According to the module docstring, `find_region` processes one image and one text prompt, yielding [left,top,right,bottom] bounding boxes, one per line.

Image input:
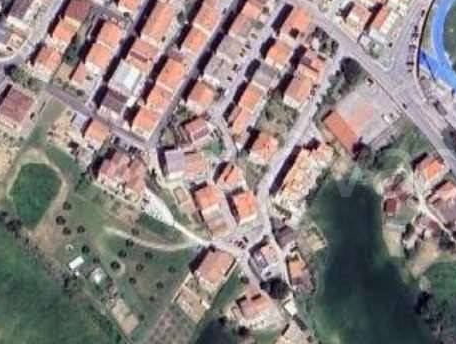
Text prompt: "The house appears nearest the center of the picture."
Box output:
[212,161,246,196]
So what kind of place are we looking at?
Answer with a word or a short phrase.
residential area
